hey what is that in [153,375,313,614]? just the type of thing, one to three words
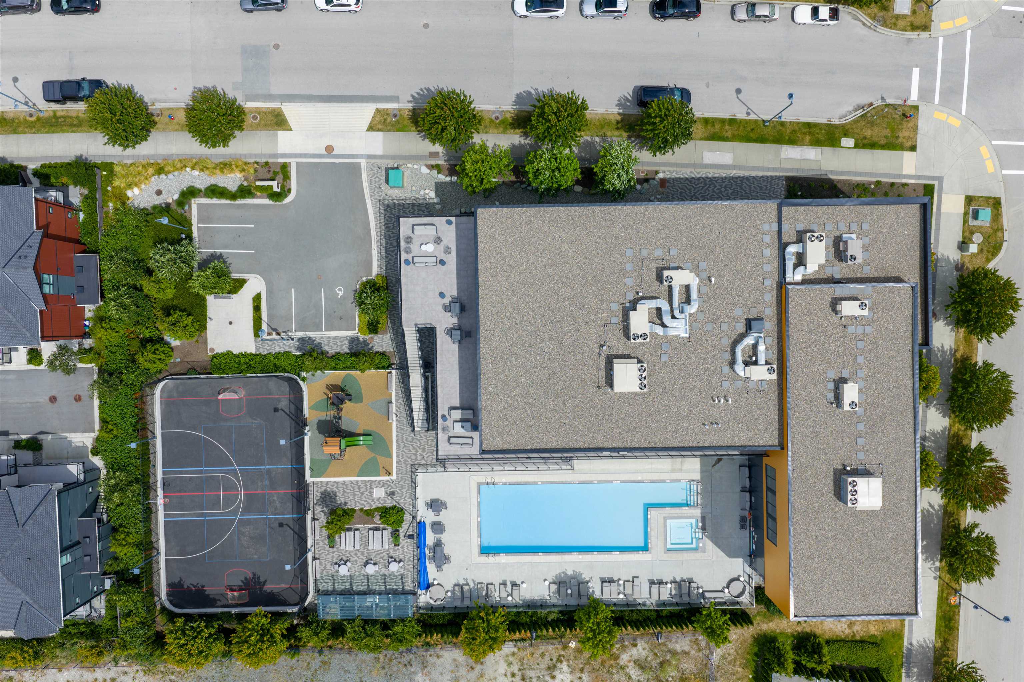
sports court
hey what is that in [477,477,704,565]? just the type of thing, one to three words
swimming pool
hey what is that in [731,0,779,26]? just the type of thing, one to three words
car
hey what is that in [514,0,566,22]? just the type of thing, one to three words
car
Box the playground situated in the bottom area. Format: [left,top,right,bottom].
[306,370,395,482]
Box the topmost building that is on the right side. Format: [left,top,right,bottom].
[397,197,933,621]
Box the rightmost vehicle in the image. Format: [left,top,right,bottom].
[792,3,839,29]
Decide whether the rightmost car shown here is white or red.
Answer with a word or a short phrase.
white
